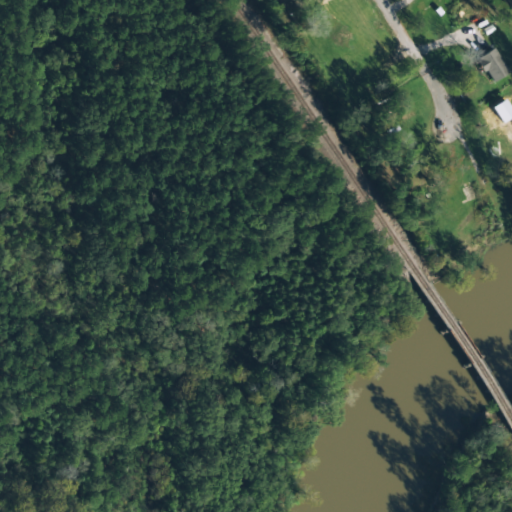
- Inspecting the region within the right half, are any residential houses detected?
Yes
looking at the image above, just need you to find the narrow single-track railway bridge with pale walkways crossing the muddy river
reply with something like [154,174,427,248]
[402,255,512,426]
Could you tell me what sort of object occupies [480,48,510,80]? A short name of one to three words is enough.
house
